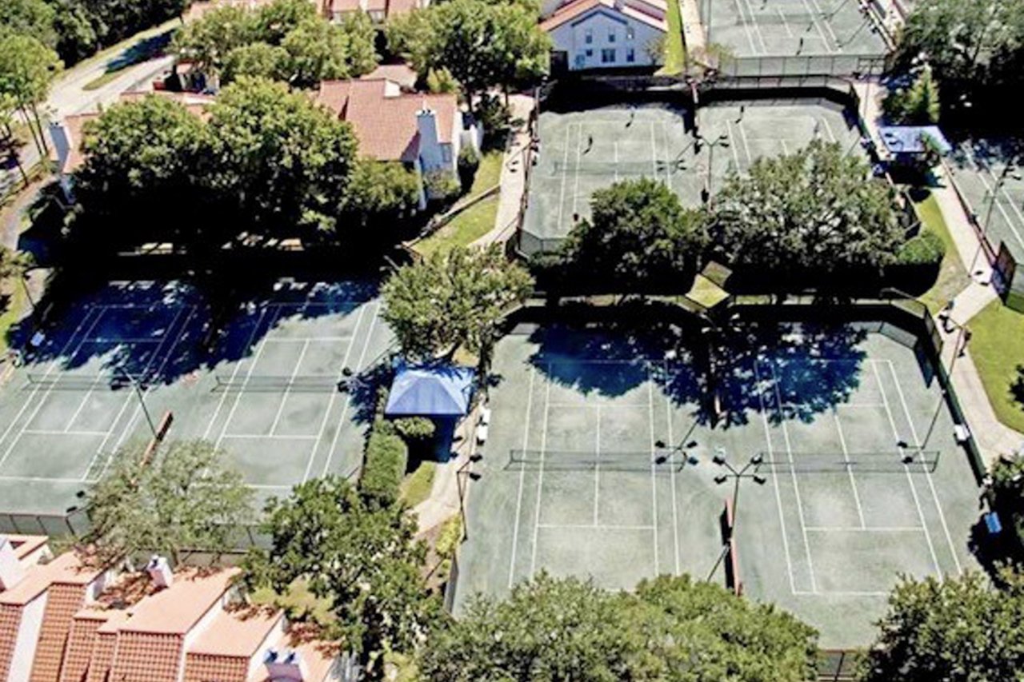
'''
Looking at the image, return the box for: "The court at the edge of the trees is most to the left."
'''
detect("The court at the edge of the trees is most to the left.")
[0,276,228,552]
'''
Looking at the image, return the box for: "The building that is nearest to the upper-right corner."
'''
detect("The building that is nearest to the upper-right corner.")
[877,126,950,176]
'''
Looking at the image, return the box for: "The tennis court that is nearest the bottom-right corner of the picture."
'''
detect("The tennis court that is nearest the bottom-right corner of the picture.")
[713,315,1024,682]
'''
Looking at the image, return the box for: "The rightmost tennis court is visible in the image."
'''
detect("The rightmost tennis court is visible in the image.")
[942,129,1024,297]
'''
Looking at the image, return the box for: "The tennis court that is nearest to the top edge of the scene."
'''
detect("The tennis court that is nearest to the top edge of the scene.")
[705,0,888,76]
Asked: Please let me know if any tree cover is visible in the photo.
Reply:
Yes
